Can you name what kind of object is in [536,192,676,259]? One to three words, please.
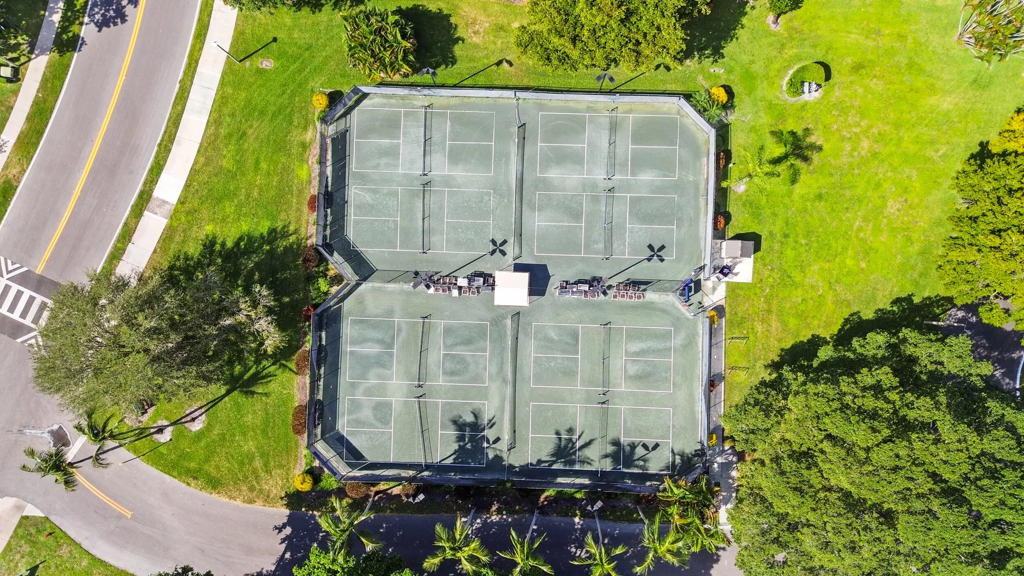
sports court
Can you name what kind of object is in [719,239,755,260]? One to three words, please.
shed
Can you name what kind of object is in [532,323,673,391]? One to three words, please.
sports court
